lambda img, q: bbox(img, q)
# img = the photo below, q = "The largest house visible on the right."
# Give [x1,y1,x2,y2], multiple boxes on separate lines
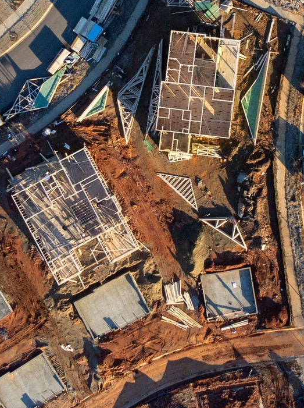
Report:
[156,28,253,154]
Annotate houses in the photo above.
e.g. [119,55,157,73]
[156,28,253,154]
[8,144,150,288]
